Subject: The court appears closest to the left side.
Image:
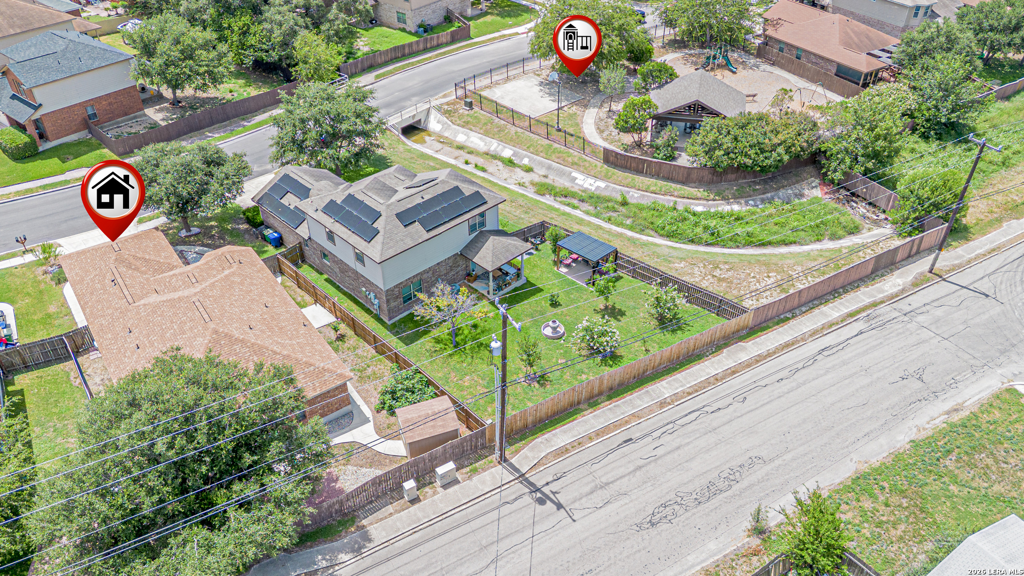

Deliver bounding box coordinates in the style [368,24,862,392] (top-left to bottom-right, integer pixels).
[480,73,585,118]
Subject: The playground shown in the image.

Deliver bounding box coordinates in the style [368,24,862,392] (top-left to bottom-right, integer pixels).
[667,52,839,126]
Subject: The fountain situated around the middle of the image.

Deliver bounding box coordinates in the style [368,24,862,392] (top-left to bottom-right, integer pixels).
[542,318,564,337]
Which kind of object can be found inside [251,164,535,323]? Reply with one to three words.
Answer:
house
